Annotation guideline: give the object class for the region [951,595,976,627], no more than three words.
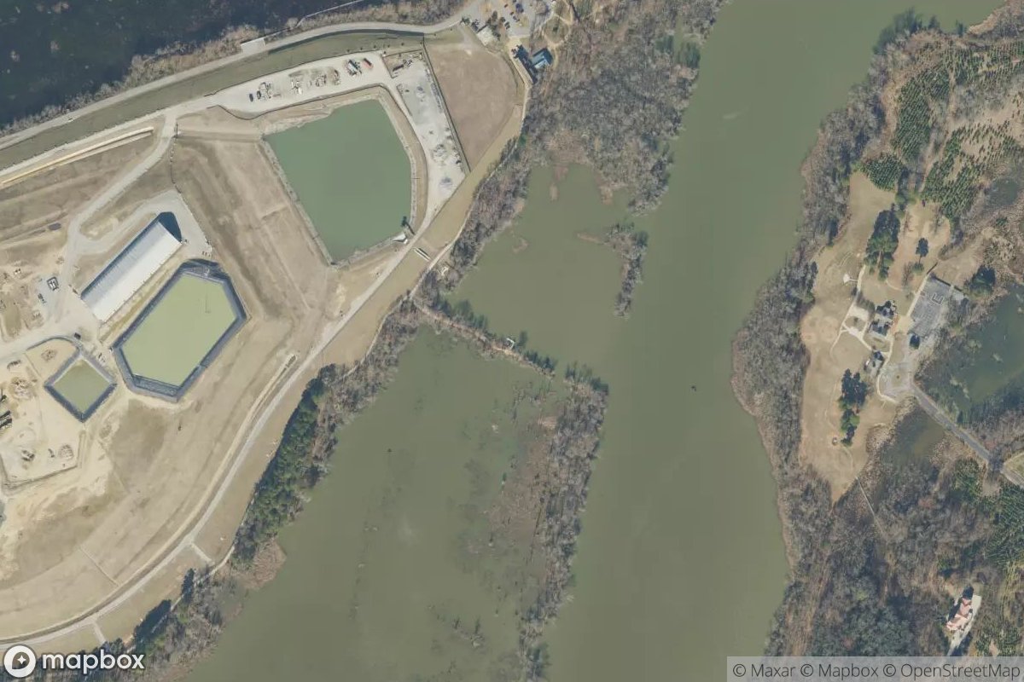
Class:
house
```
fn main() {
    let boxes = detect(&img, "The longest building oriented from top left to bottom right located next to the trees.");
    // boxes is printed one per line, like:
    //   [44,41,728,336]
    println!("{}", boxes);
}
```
[510,44,540,83]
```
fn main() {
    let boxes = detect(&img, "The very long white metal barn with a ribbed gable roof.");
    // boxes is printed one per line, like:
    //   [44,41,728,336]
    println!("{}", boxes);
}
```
[80,221,181,321]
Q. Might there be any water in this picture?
Yes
